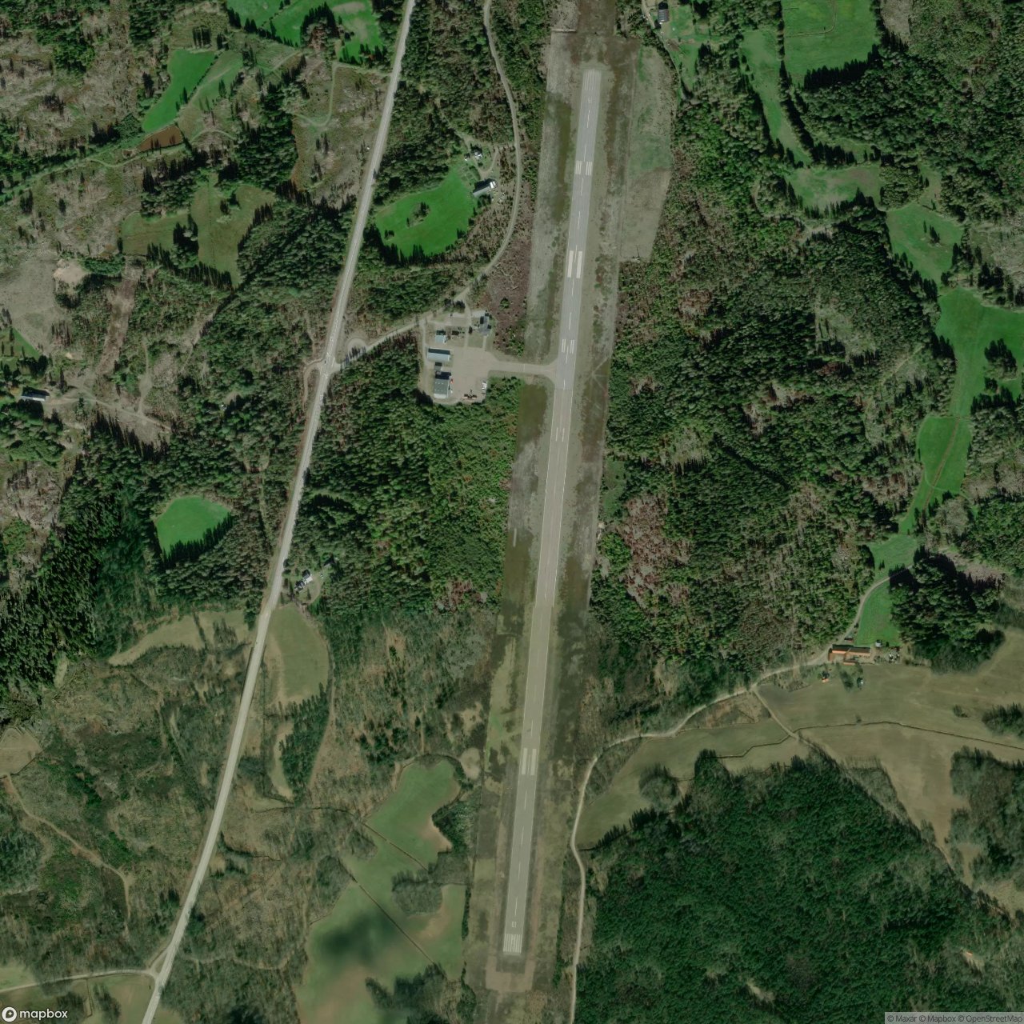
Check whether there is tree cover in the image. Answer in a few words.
Yes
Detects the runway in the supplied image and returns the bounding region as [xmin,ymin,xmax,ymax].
[503,70,601,957]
